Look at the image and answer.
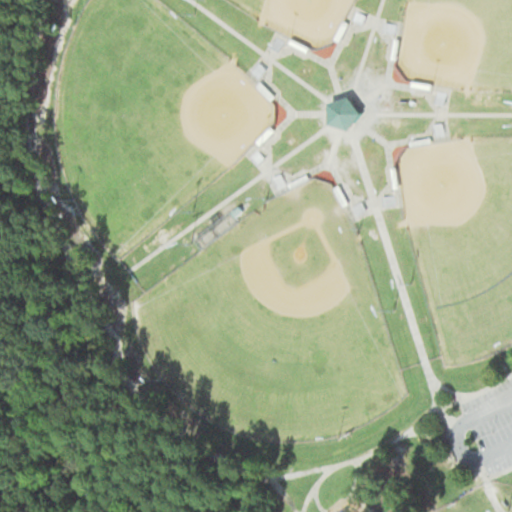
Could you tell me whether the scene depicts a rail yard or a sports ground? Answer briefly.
sports ground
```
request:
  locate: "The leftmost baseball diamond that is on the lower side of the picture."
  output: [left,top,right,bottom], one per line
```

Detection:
[134,179,407,443]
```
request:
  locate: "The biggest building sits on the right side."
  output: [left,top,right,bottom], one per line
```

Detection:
[327,96,364,132]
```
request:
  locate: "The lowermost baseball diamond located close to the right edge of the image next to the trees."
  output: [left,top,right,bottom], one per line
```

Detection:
[398,137,512,368]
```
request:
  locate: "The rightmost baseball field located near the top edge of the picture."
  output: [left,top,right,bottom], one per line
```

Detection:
[397,0,512,90]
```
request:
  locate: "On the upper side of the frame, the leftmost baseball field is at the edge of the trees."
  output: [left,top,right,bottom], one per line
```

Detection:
[55,0,276,263]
